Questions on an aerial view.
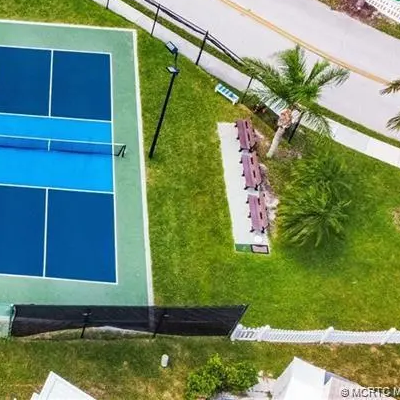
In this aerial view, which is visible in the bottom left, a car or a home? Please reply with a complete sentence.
The feature located in the bottom left is a home.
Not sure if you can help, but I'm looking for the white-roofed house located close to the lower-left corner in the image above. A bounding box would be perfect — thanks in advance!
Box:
[31,369,101,400]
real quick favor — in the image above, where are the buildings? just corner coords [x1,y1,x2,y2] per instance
[31,369,101,400]
[273,357,344,400]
